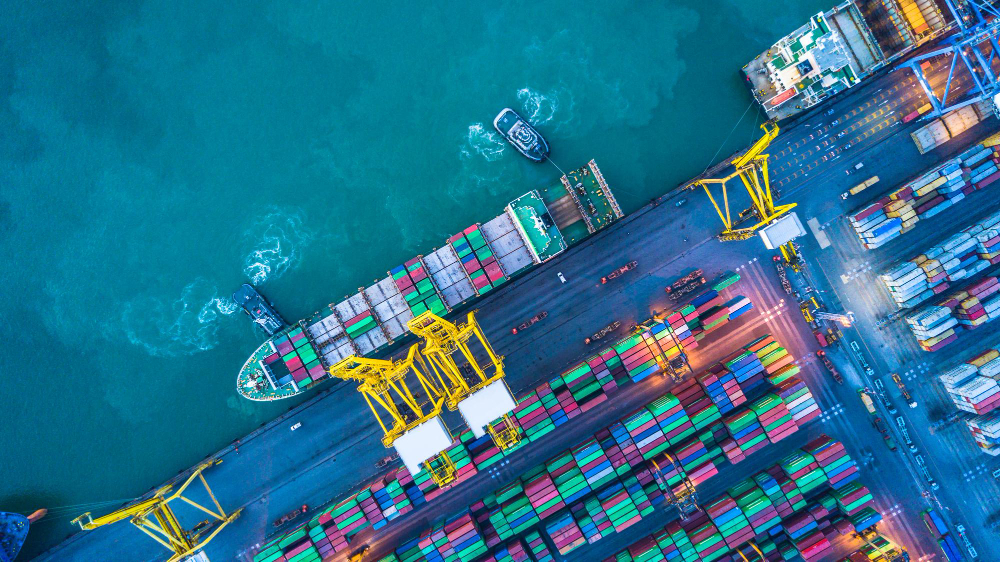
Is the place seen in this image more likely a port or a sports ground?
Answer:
port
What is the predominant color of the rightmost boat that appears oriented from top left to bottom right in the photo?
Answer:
blue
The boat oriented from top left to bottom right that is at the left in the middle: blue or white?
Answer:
blue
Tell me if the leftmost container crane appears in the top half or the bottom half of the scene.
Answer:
bottom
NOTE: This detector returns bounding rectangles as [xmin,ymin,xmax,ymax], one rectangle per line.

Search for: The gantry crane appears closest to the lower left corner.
[61,464,243,562]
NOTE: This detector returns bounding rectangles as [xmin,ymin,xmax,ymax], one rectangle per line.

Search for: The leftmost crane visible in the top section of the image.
[689,106,819,271]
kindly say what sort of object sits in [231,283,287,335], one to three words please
boat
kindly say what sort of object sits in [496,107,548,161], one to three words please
boat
